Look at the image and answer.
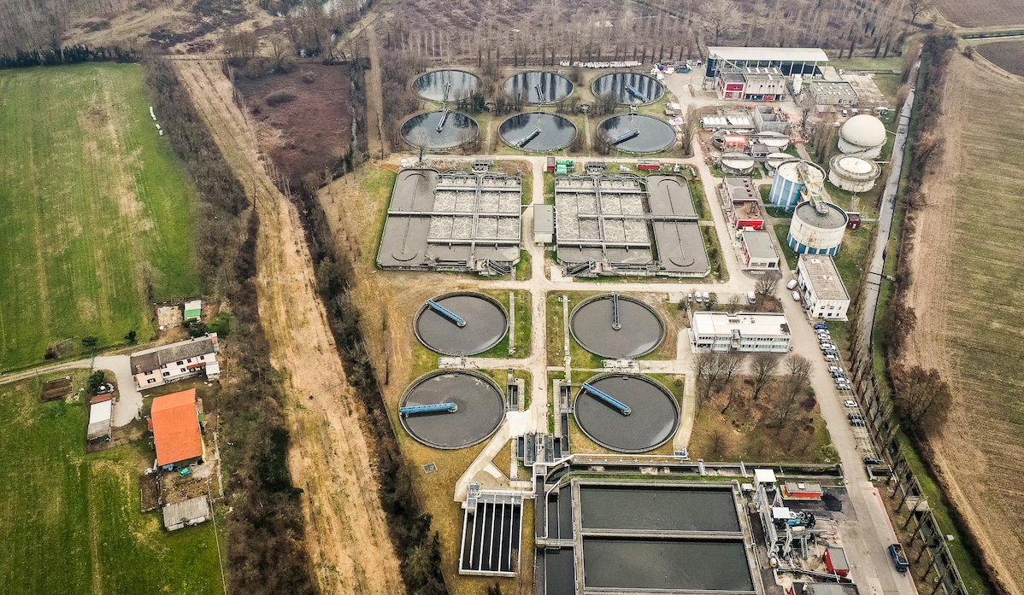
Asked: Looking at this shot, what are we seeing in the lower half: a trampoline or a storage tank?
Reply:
storage tank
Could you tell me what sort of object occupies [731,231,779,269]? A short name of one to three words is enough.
building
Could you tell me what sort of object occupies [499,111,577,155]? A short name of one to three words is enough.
storage tank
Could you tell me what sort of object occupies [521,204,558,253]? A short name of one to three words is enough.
house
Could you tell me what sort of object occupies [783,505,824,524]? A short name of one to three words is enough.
vehicle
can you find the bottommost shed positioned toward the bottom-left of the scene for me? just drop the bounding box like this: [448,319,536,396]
[164,496,210,535]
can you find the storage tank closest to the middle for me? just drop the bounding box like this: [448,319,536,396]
[413,291,509,362]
